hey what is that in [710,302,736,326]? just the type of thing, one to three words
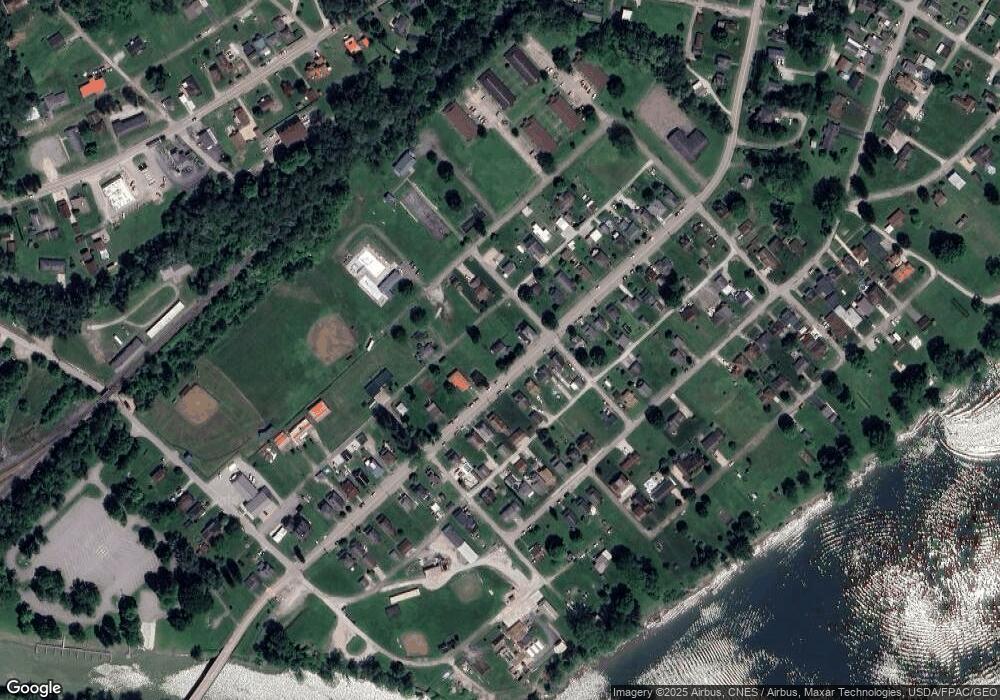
house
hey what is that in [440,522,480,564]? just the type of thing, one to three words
building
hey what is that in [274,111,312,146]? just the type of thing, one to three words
barn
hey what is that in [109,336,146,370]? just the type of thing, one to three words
shed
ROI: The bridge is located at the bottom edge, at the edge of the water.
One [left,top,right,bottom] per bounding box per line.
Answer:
[184,630,242,700]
